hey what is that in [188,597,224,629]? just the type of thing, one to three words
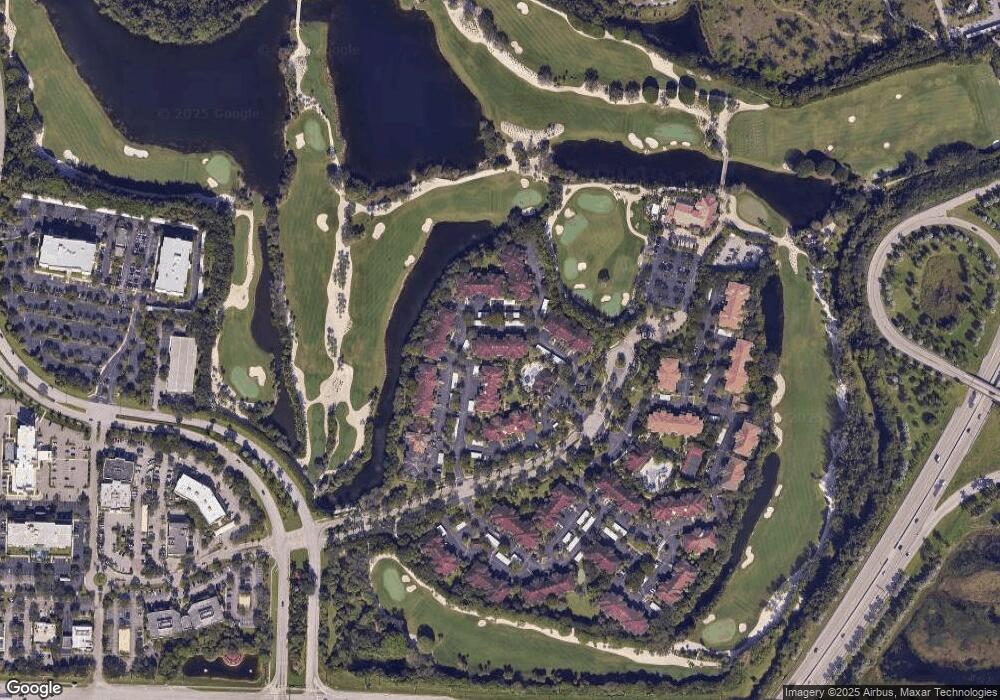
building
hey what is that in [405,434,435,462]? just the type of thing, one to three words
building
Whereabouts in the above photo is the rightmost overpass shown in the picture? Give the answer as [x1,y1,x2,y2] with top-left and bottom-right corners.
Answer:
[892,343,1000,404]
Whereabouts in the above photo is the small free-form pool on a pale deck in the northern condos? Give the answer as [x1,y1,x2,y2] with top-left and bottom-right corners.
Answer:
[521,360,545,391]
